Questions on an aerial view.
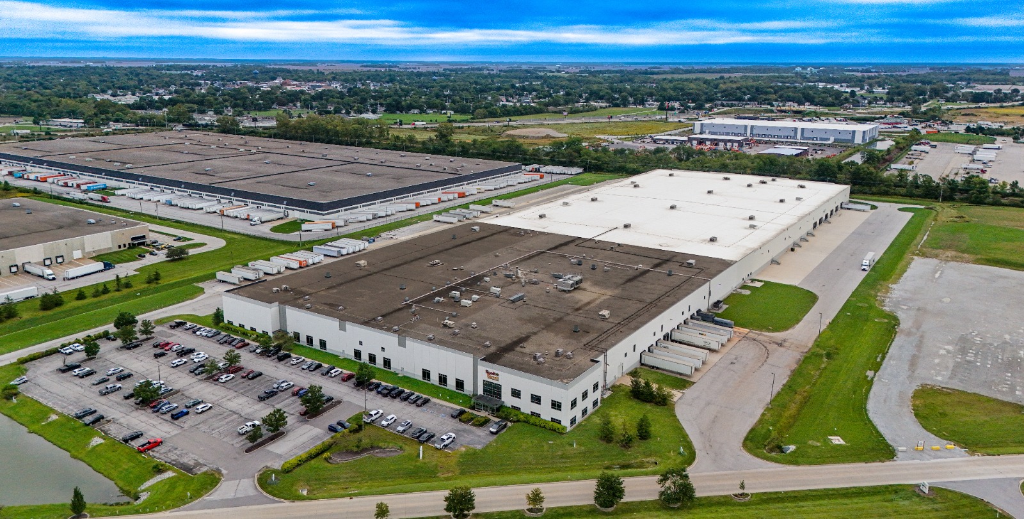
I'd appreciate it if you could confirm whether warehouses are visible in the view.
Yes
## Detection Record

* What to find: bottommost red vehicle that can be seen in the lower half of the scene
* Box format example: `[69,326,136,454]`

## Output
[135,438,164,452]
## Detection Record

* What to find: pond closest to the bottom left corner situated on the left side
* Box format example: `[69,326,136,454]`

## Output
[0,414,127,507]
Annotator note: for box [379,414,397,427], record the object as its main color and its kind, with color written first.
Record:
white vehicle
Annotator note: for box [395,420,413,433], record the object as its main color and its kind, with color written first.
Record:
gray vehicle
